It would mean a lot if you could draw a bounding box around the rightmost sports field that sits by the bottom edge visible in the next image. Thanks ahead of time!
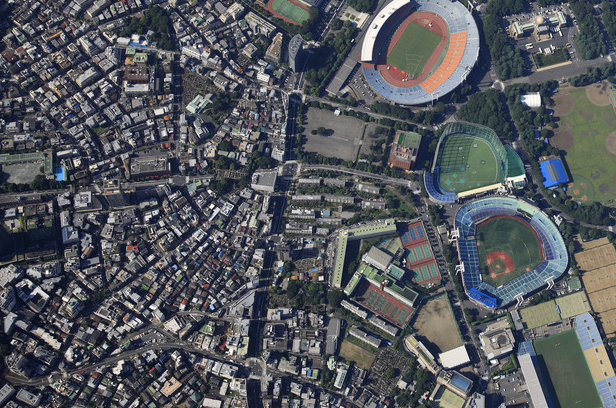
[534,332,602,408]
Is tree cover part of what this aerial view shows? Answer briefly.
Yes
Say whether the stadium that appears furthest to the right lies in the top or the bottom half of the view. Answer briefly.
bottom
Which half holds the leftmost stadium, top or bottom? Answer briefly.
top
